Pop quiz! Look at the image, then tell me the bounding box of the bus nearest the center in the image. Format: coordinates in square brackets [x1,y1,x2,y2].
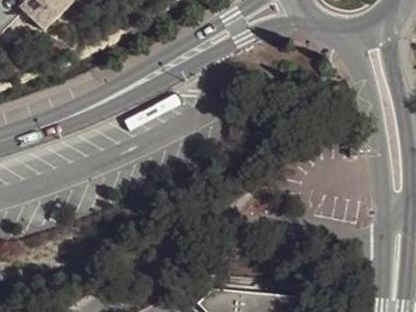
[124,92,184,132]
